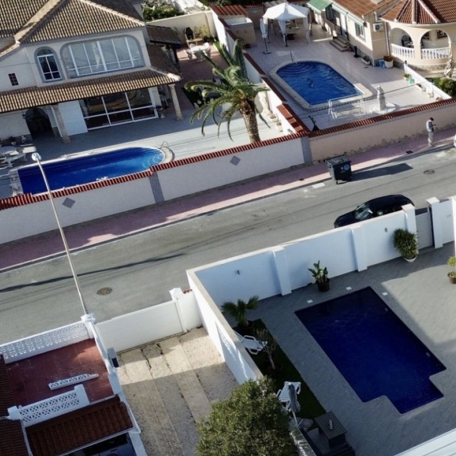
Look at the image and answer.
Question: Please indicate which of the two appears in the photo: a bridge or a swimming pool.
swimming pool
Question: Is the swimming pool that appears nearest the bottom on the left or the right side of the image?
right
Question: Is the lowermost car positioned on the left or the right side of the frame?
right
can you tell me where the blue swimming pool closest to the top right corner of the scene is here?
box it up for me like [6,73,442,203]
[269,58,369,109]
